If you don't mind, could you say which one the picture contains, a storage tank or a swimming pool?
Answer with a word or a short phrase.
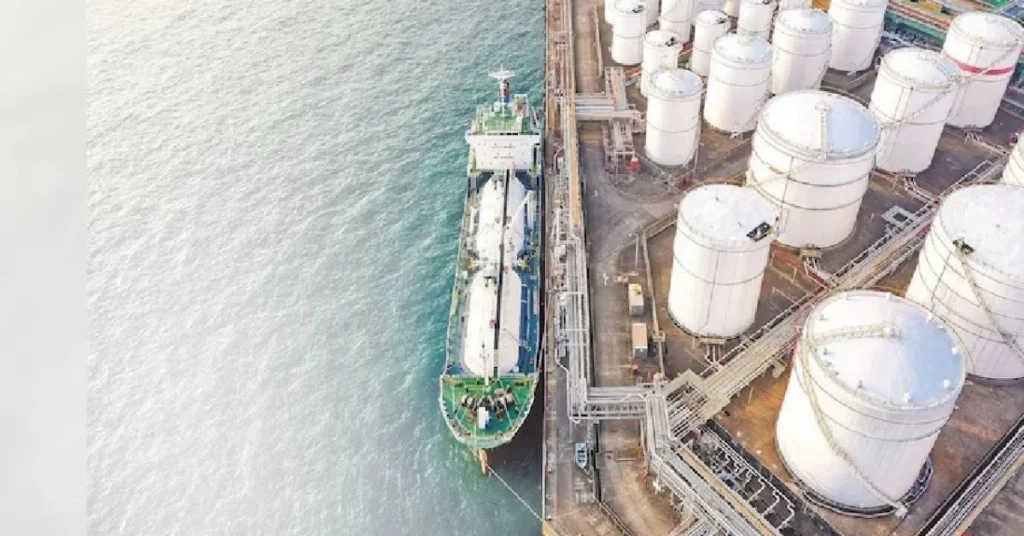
storage tank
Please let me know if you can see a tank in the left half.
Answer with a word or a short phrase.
No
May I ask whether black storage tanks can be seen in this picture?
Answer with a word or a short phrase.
No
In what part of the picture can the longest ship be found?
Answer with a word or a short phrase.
center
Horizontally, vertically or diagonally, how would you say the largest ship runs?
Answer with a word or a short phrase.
vertically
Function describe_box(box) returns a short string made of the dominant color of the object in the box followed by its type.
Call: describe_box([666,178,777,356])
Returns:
white storage tank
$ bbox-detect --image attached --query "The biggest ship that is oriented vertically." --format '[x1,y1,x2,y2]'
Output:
[440,65,544,474]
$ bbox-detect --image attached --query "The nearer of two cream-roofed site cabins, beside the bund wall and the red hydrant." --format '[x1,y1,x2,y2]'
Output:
[633,326,652,359]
